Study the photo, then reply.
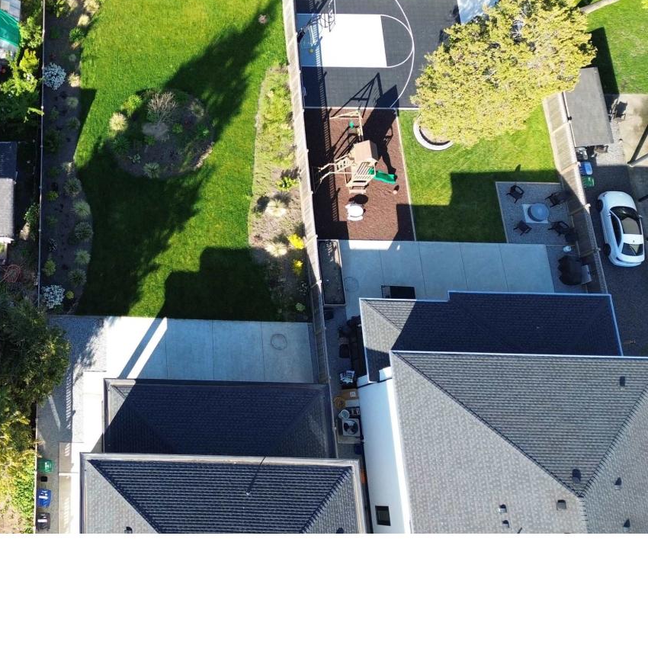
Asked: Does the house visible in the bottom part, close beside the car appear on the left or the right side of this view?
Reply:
right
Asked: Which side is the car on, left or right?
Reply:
right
